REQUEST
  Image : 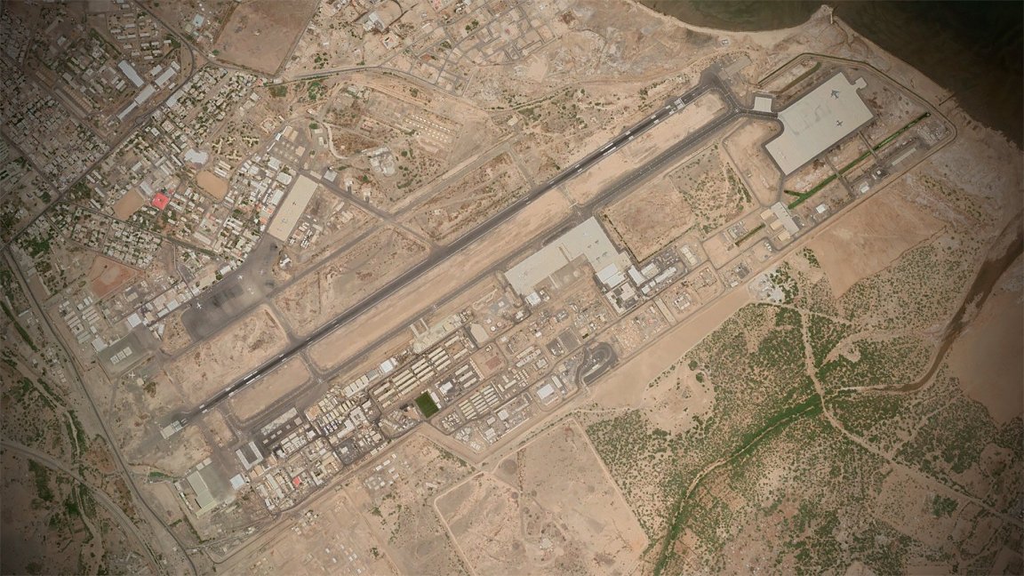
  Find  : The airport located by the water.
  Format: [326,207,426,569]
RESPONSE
[98,55,921,504]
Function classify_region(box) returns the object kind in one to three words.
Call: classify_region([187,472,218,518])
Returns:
hangar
